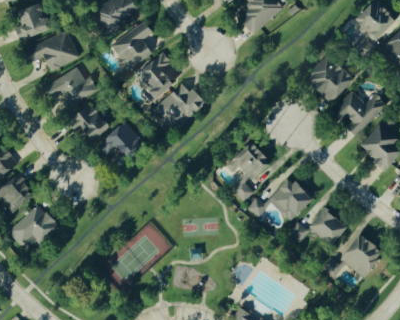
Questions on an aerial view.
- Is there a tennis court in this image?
Yes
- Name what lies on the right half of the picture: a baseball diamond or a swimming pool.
swimming pool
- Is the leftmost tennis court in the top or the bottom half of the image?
bottom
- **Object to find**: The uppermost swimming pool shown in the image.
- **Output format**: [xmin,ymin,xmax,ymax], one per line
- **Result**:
[344,19,362,46]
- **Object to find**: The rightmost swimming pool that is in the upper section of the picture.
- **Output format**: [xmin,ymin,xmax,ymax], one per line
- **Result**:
[362,81,382,97]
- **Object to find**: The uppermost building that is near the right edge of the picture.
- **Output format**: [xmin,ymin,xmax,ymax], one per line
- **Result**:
[362,2,394,43]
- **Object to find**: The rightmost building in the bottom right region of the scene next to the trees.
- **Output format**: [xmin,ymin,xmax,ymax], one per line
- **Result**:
[344,236,383,278]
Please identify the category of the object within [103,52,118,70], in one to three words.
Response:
swimming pool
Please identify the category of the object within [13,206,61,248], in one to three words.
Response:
house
